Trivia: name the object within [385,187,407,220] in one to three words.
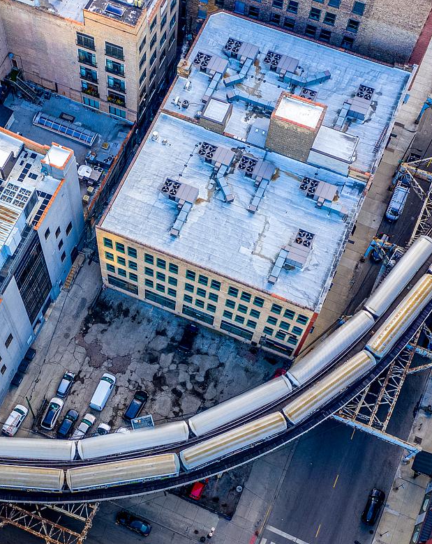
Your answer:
vehicle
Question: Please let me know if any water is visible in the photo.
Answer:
No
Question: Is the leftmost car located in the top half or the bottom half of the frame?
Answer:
bottom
